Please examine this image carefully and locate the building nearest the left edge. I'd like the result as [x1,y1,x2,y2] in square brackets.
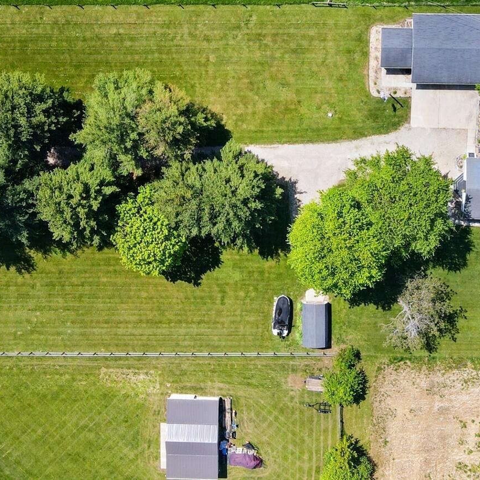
[164,393,220,480]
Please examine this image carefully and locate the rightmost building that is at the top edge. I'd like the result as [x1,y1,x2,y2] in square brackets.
[412,13,480,84]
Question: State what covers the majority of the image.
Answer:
grass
